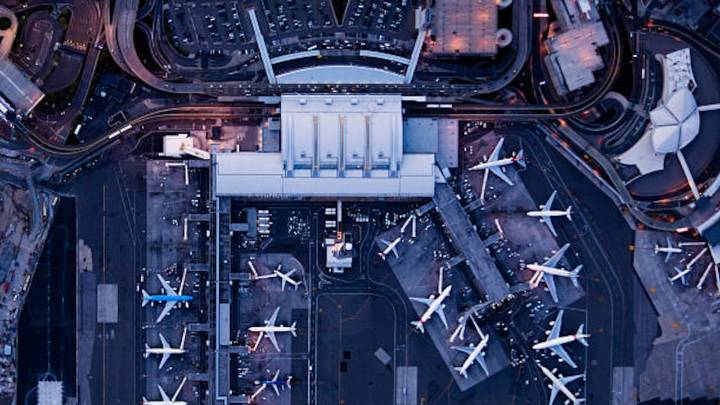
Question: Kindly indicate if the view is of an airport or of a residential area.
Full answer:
This image shows an airport.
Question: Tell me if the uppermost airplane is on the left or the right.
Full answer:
The uppermost airplane appears in the right half of the scene.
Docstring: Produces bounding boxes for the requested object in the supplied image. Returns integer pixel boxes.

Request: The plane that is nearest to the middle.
[380,237,402,259]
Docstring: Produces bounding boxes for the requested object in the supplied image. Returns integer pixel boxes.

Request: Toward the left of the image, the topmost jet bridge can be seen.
[165,162,189,186]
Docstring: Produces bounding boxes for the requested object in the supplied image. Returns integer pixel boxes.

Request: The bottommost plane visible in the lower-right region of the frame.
[540,364,590,405]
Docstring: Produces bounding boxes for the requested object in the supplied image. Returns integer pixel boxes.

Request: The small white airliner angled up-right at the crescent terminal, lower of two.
[669,267,690,284]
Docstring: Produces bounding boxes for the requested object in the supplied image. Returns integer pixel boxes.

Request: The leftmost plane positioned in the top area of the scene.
[469,138,526,184]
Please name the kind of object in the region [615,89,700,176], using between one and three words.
building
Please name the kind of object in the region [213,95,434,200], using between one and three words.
building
